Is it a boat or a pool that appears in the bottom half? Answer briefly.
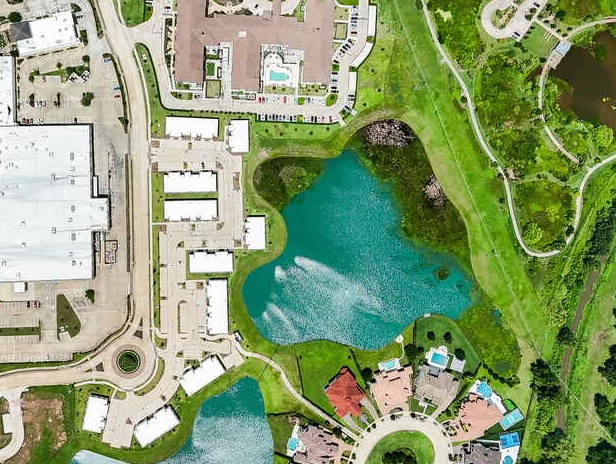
pool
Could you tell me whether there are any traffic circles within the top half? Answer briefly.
No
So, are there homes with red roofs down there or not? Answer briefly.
Yes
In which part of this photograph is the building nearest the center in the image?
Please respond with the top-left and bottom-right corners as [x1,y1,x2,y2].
[244,214,265,250]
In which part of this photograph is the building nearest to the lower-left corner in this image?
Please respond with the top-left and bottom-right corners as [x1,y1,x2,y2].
[82,393,109,432]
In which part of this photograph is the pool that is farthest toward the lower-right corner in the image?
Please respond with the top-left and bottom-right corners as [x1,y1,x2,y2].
[500,445,520,464]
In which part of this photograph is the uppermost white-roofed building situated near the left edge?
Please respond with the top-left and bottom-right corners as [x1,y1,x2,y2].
[10,10,82,58]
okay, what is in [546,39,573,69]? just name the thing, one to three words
building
